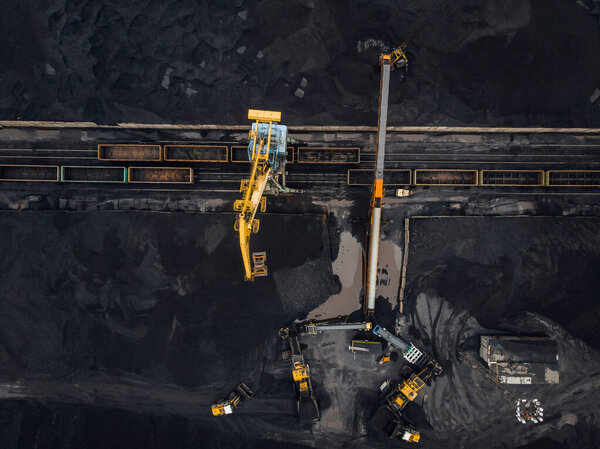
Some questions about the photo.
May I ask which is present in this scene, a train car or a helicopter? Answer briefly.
train car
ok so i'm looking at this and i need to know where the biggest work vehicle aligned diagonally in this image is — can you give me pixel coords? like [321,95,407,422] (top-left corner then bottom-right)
[212,380,259,421]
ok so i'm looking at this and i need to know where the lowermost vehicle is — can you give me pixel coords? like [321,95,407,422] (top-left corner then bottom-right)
[384,420,424,443]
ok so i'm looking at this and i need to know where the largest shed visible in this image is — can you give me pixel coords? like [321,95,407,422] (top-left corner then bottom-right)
[480,334,561,385]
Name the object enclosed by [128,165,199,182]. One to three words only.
rail car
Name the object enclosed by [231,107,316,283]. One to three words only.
crane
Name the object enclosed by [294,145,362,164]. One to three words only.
rail car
